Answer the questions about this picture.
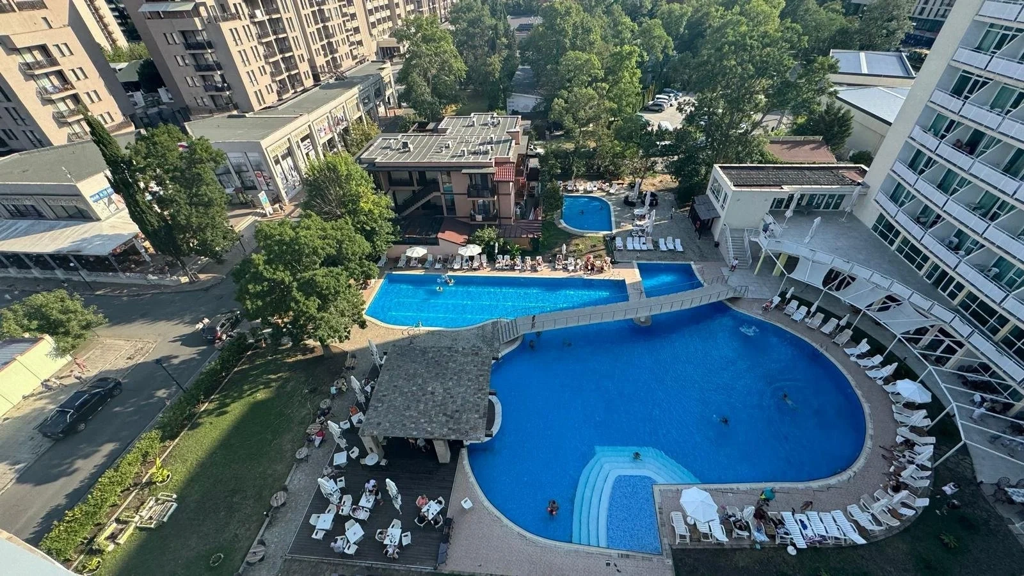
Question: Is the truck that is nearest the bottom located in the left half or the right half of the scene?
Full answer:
The truck that is nearest the bottom sits on the left side.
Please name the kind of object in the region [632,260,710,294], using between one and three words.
swimming pool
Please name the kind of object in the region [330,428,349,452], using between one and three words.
umbrella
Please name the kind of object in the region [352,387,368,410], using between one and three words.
umbrella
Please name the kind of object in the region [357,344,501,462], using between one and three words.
building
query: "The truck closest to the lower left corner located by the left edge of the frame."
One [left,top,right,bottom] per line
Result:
[36,375,124,440]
